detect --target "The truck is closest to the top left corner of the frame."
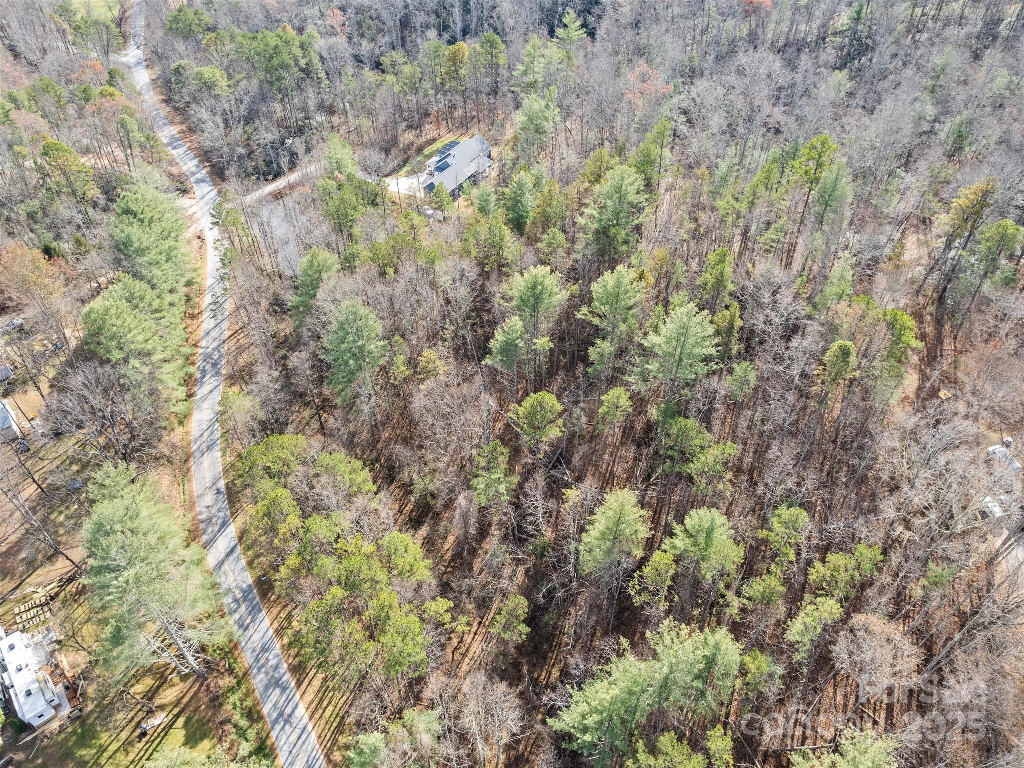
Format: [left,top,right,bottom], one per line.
[0,314,26,335]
